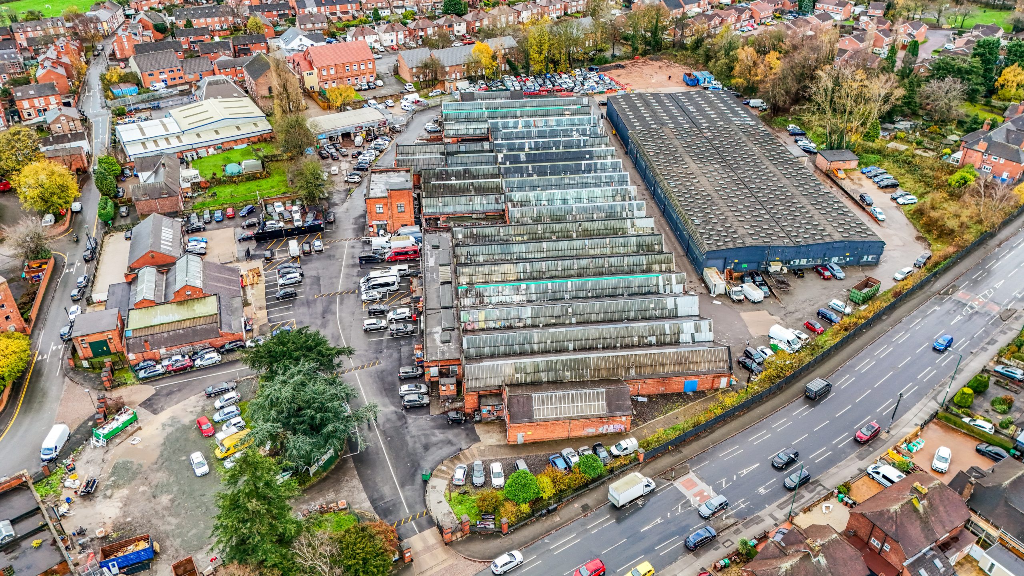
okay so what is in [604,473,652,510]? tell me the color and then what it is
white truck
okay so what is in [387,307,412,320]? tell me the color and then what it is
white vehicle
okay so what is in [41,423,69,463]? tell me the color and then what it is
white van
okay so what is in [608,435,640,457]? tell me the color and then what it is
white vehicle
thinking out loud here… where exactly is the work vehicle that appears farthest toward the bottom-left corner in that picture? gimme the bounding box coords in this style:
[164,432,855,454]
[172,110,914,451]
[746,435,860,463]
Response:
[74,524,89,538]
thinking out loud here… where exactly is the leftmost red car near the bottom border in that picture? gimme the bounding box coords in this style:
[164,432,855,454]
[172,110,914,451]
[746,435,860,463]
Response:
[573,556,608,576]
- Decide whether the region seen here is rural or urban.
urban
